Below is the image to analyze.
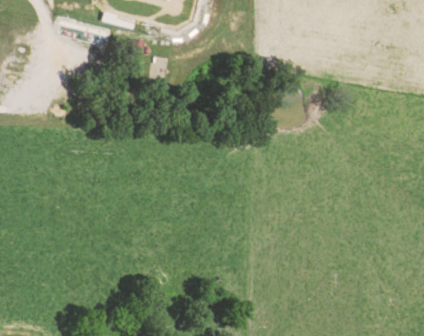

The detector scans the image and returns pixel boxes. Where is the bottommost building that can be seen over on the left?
[150,56,168,79]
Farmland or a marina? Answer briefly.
farmland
